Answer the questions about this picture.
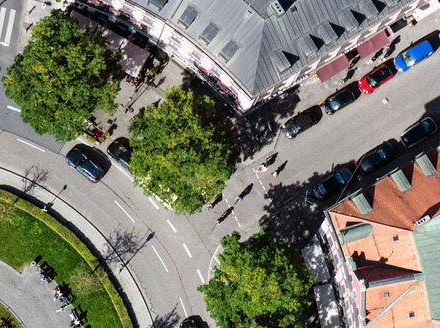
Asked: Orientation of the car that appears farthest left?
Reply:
at an angle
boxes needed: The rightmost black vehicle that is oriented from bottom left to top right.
[398,115,440,149]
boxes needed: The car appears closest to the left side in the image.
[67,147,108,183]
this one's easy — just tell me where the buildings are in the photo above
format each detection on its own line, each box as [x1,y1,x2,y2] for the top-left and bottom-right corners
[321,139,440,328]
[83,0,428,118]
